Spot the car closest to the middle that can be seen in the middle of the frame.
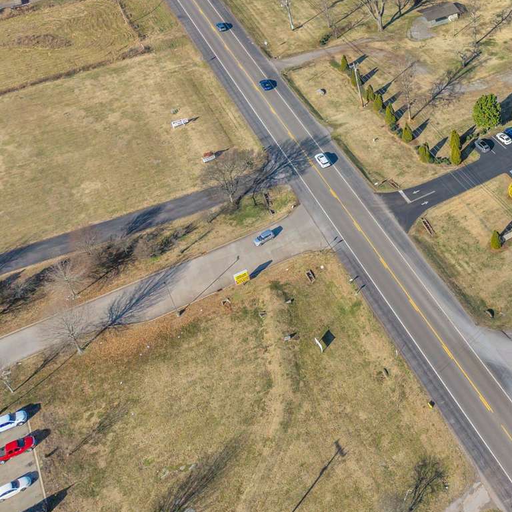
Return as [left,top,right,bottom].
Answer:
[249,224,277,245]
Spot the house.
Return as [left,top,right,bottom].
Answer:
[414,1,463,27]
